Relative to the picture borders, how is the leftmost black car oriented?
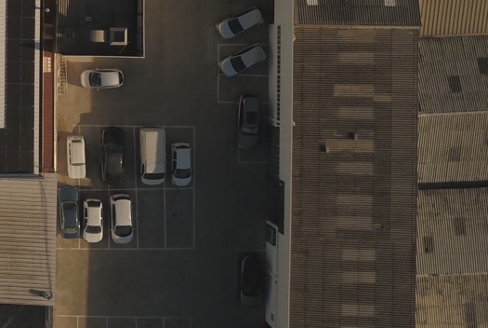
from top to bottom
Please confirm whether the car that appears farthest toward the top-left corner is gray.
Yes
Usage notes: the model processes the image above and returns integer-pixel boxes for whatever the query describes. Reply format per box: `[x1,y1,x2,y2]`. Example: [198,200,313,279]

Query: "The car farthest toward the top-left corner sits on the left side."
[80,66,125,91]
